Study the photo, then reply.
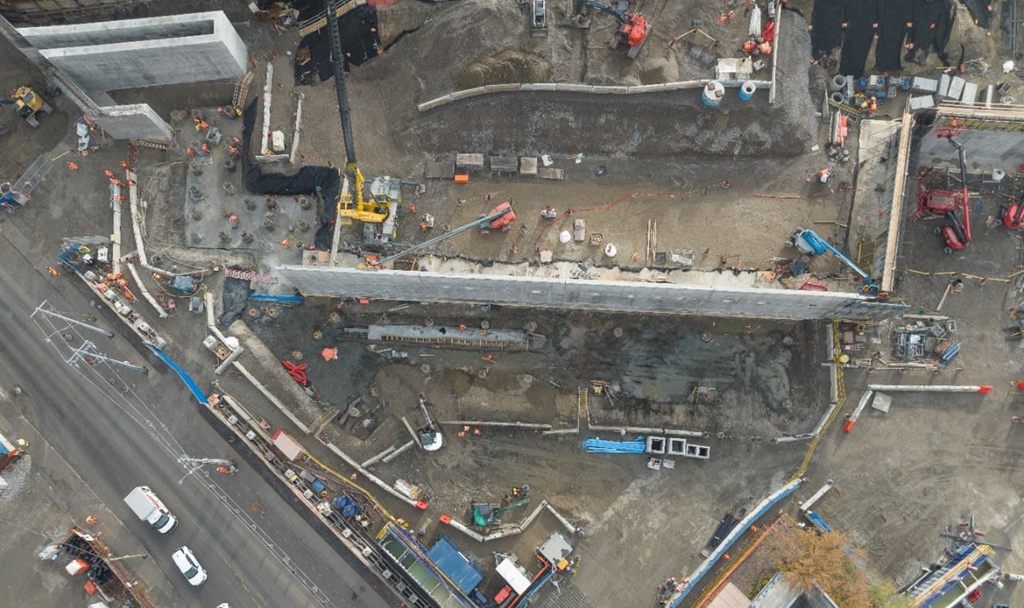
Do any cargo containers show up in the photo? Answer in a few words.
Yes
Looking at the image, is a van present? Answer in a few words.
Yes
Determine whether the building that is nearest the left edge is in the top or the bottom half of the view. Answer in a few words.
bottom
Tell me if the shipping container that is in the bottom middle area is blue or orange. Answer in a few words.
blue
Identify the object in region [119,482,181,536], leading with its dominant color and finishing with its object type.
white van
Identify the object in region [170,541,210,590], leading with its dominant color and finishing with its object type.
white car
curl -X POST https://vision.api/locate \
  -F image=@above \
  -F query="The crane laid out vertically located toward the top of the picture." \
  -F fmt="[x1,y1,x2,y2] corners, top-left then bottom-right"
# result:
[320,0,421,249]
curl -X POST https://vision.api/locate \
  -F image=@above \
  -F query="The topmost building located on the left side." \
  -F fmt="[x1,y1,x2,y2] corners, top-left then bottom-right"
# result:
[268,428,303,458]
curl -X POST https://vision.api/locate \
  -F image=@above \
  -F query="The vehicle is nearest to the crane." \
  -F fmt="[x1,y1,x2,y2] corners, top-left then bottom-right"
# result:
[358,201,521,271]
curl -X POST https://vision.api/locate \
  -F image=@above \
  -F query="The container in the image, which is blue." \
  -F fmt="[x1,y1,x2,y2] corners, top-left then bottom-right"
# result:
[427,534,487,596]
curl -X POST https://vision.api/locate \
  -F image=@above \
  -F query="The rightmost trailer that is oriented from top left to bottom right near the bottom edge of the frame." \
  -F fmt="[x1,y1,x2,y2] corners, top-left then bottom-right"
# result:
[488,546,532,596]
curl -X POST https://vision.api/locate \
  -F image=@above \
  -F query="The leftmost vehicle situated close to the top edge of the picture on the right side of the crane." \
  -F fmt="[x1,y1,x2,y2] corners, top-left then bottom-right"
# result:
[529,0,550,35]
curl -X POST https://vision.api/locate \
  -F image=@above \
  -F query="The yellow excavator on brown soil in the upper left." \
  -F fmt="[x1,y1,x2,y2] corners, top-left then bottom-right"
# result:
[0,85,57,130]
